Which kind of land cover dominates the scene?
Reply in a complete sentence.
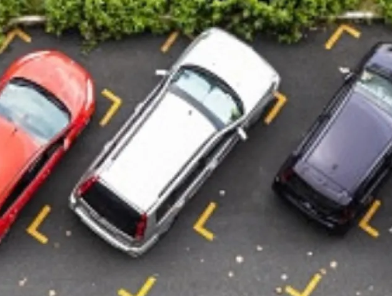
The scene is dominated by paved ground.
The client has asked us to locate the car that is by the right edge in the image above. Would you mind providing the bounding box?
[275,38,392,238]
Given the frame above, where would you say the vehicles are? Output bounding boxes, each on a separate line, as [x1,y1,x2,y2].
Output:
[70,27,279,260]
[275,38,392,238]
[0,45,96,247]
